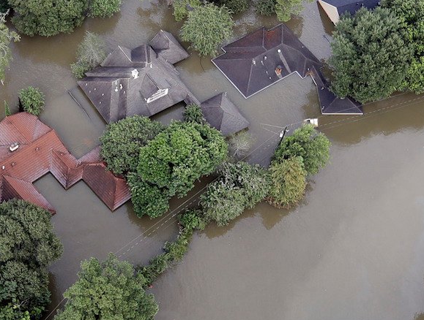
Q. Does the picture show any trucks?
No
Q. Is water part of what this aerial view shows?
Yes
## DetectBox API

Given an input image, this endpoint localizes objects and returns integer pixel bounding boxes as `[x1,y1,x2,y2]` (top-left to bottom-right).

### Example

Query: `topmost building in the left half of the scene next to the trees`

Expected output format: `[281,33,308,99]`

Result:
[78,29,249,137]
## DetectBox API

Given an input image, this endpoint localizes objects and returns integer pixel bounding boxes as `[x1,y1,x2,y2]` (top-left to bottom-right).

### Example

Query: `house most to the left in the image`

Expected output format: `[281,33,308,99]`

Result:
[0,111,131,228]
